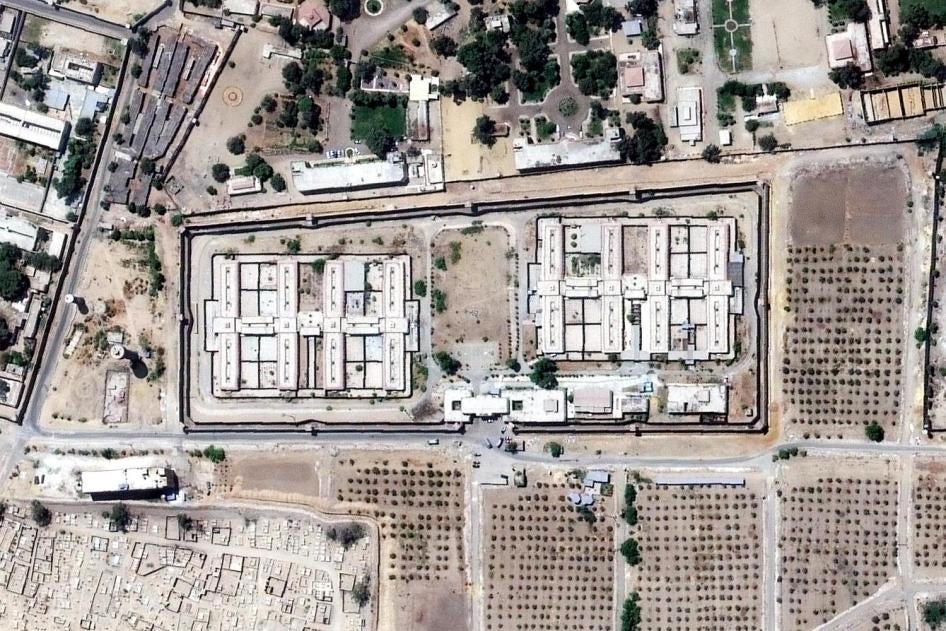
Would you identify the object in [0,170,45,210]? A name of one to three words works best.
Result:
shed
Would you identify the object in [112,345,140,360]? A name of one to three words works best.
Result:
water tower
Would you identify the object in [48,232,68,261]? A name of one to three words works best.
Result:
house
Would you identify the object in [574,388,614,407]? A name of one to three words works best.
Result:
building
